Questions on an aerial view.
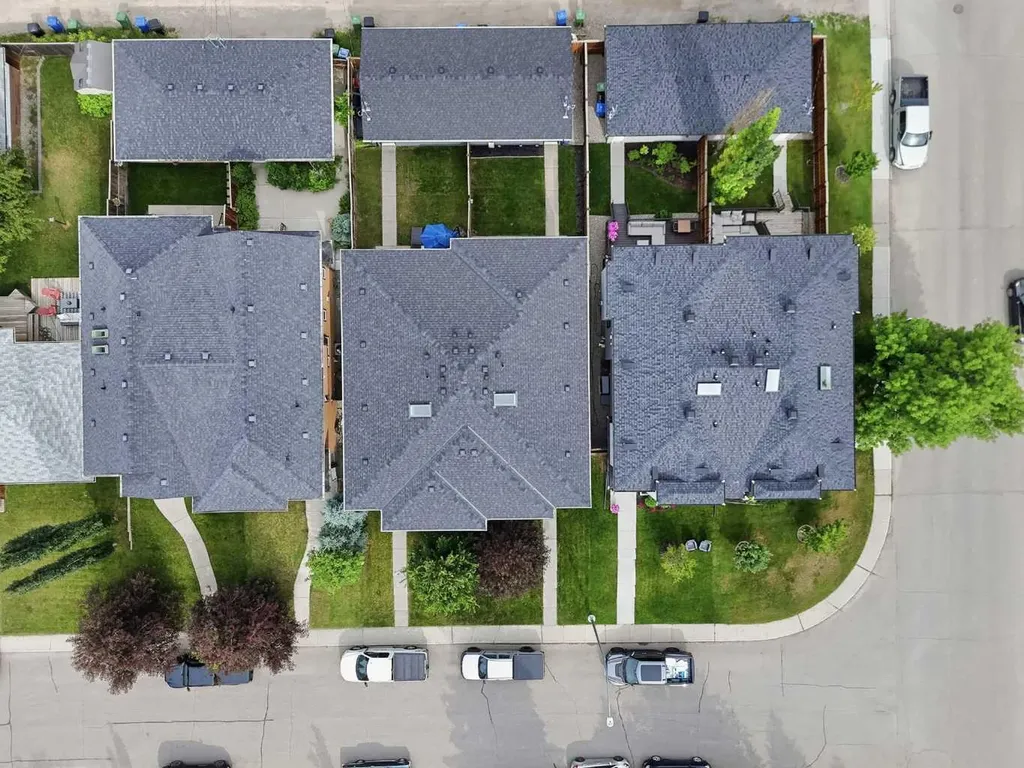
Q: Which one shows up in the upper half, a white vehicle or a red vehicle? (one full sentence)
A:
There is a white vehicle in the upper half.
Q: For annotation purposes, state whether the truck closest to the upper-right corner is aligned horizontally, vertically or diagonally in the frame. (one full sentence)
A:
The truck closest to the upper-right corner has been laid out vertically relative to the frame.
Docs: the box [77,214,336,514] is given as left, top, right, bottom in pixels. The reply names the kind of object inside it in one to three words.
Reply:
house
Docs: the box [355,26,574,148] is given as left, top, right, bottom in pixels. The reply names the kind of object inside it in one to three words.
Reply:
building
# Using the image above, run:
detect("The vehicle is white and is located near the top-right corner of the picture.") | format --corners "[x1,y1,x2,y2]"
[892,76,938,169]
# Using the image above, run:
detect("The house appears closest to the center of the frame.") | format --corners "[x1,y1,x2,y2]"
[339,235,592,532]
